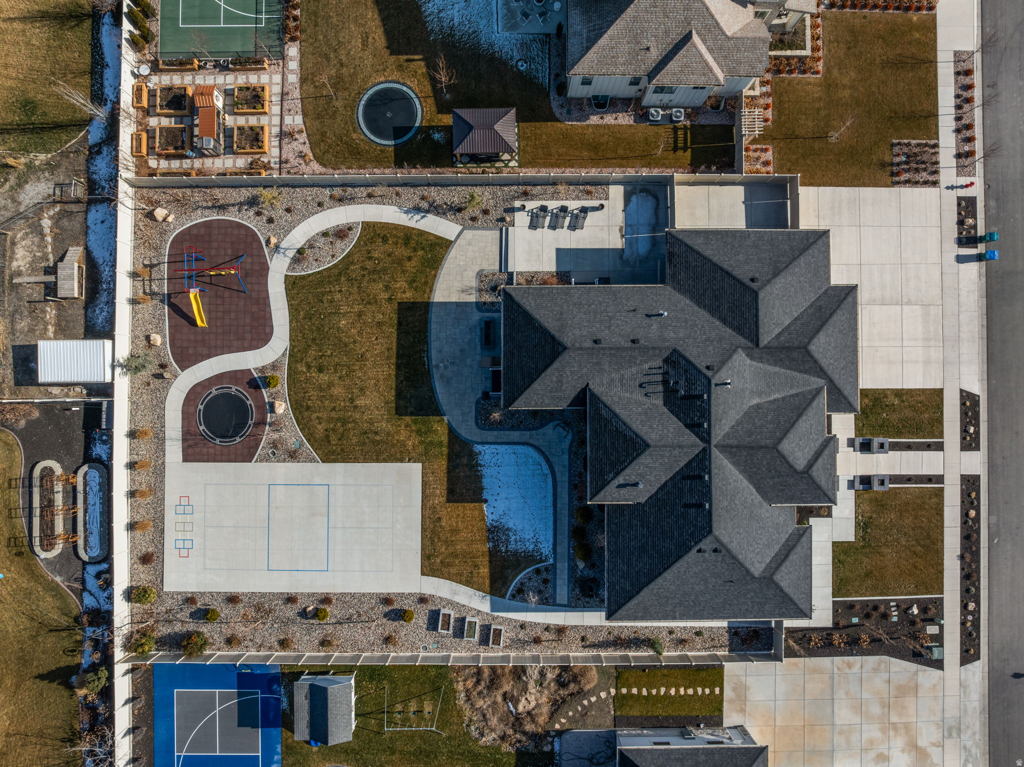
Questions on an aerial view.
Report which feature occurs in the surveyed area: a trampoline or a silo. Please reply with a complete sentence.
There is a trampoline in the scene.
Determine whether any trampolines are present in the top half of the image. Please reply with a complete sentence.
Yes, a trampoline is visible in the top half of the image.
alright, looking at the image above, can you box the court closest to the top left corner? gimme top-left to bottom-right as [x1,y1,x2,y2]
[159,0,284,57]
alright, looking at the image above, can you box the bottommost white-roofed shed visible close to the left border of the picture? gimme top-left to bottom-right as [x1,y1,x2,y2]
[37,340,116,383]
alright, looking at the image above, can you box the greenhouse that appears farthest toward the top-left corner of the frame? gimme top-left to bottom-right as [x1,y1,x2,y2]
[194,86,223,153]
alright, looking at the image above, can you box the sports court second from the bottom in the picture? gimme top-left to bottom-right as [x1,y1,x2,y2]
[163,463,421,593]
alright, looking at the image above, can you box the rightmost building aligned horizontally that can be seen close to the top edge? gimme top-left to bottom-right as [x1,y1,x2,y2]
[564,0,816,106]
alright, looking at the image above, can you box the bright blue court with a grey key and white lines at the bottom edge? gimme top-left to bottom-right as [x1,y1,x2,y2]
[153,663,281,767]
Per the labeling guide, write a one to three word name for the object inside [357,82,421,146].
trampoline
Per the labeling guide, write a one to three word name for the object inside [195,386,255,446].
trampoline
